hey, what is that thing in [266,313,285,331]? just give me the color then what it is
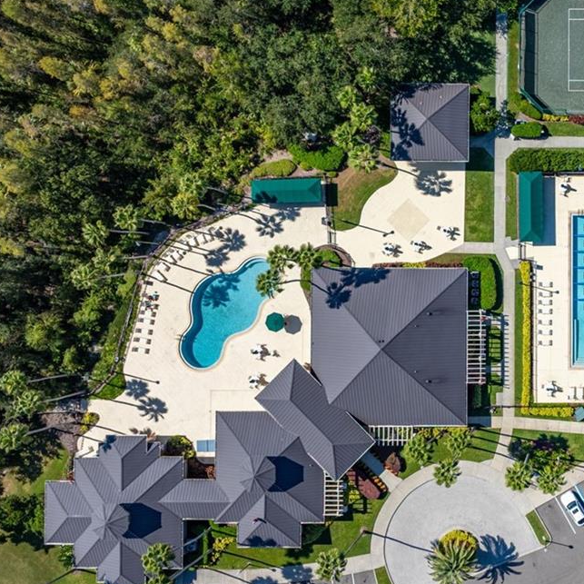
green umbrella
